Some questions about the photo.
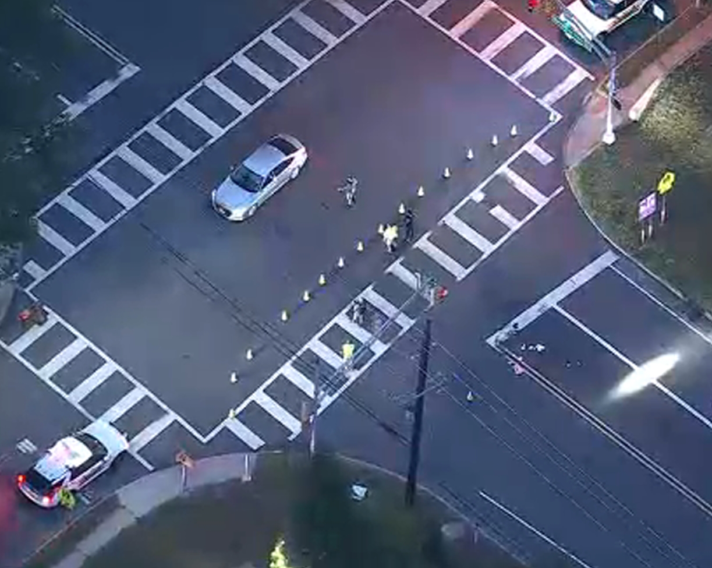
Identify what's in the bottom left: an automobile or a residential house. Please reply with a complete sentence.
What appears in the bottom left is an automobile.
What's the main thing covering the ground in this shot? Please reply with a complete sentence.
Most of the picture is covered by paved ground.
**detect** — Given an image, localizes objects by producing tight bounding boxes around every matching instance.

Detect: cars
[212,132,306,221]
[558,0,663,48]
[19,422,134,511]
